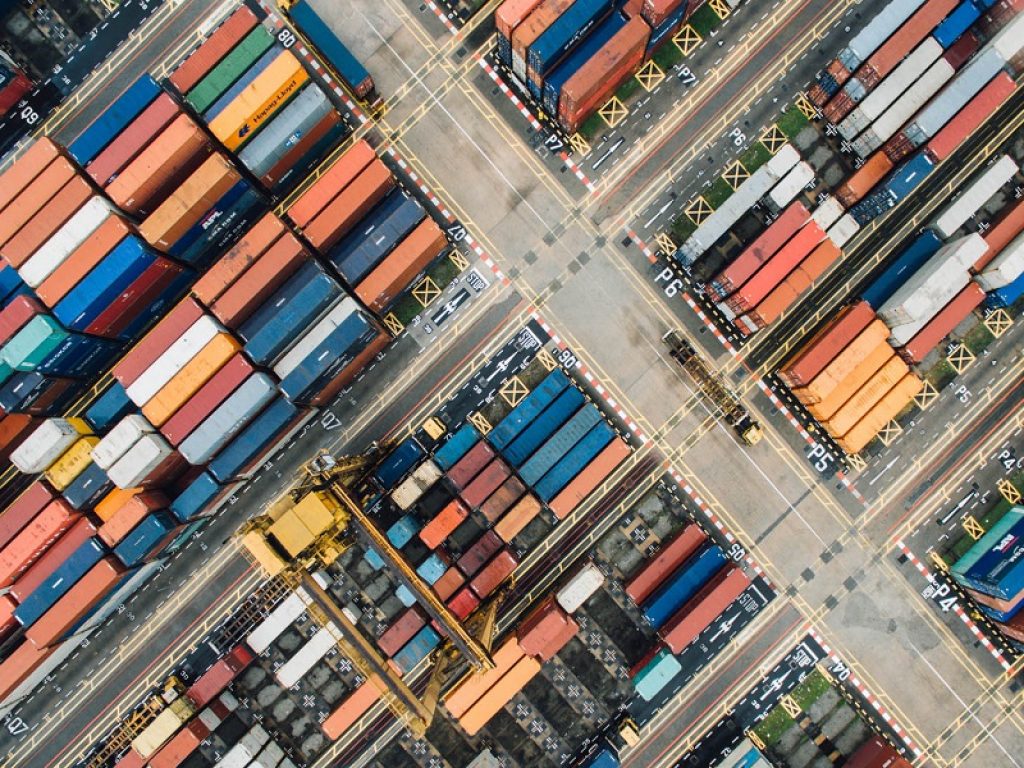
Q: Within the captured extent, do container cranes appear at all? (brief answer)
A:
Yes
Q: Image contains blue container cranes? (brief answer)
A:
No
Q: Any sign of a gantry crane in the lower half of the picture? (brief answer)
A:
Yes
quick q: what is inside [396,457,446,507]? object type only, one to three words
shipping container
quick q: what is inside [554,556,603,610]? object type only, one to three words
shipping container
